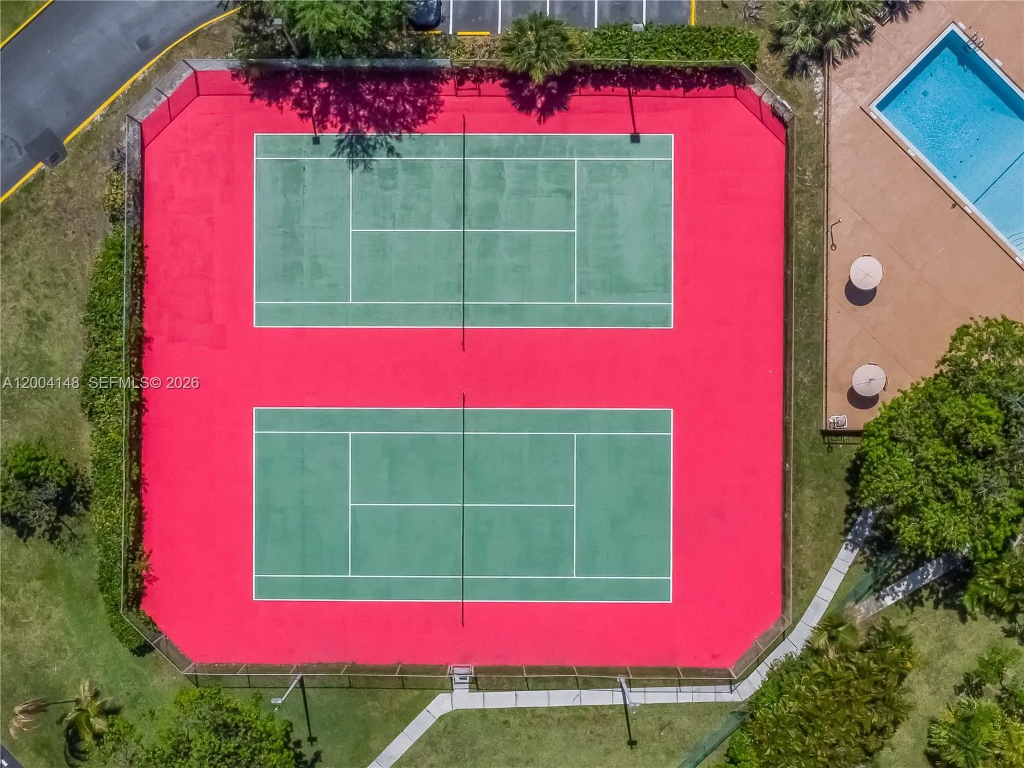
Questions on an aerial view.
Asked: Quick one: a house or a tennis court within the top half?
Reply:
tennis court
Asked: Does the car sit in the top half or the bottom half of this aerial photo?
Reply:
top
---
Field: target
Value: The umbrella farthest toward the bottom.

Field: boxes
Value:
[851,364,885,397]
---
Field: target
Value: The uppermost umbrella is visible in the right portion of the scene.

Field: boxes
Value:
[848,257,882,291]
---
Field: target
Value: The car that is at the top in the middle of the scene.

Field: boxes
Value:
[408,0,444,30]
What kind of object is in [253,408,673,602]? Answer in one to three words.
tennis court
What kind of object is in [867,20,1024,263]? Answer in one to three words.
swimming pool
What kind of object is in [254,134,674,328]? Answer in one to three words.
tennis court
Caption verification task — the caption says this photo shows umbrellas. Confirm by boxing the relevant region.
[848,257,882,291]
[851,364,885,397]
